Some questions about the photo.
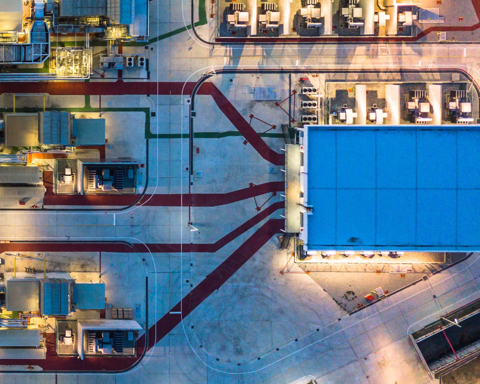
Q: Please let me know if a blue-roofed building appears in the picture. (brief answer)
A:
Yes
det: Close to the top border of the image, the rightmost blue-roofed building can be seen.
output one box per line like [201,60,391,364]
[101,0,150,36]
